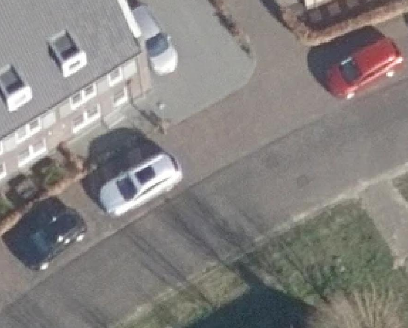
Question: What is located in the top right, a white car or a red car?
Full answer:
Looking in the top right, you will find a red car.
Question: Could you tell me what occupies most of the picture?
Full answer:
The bulk of the photo consists of paved ground.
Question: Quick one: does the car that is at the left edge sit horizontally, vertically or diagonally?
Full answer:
What the image shows is the car that is at the left edge lying diagonally.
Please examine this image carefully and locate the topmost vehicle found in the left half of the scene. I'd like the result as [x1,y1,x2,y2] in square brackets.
[127,0,176,80]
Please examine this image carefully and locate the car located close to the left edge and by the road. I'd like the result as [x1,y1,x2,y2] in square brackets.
[12,204,90,272]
